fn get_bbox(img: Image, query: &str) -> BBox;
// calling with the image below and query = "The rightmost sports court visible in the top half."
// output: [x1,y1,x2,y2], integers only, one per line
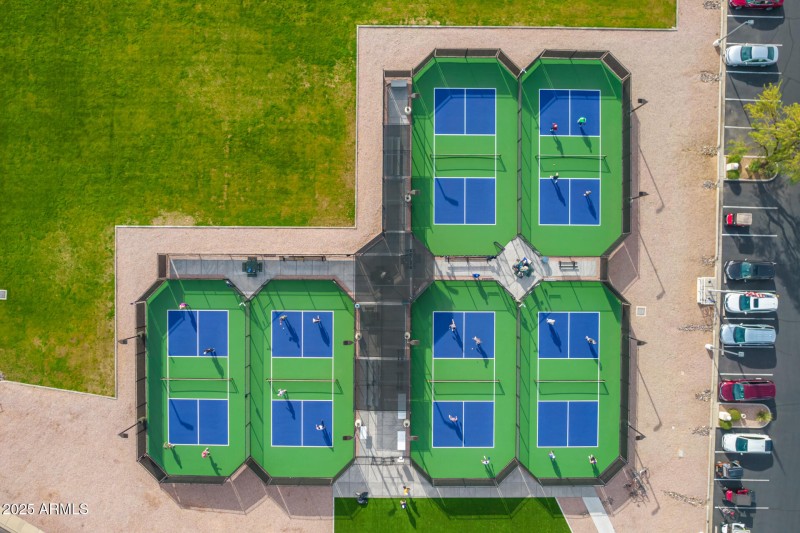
[520,59,622,256]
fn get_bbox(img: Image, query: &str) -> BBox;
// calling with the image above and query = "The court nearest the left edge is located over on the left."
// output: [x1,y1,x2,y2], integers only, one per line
[146,281,248,477]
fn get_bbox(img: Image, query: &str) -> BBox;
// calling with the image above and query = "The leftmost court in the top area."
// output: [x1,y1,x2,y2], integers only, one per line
[412,56,518,256]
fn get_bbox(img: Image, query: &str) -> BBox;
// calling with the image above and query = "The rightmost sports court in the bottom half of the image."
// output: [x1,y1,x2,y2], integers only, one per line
[517,281,622,478]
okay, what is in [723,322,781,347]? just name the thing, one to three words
car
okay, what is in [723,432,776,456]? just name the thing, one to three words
car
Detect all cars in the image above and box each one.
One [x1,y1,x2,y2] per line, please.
[730,0,786,9]
[720,378,781,403]
[726,291,781,315]
[723,432,776,456]
[723,322,781,347]
[727,41,782,66]
[726,259,782,283]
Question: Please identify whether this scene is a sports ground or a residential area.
sports ground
